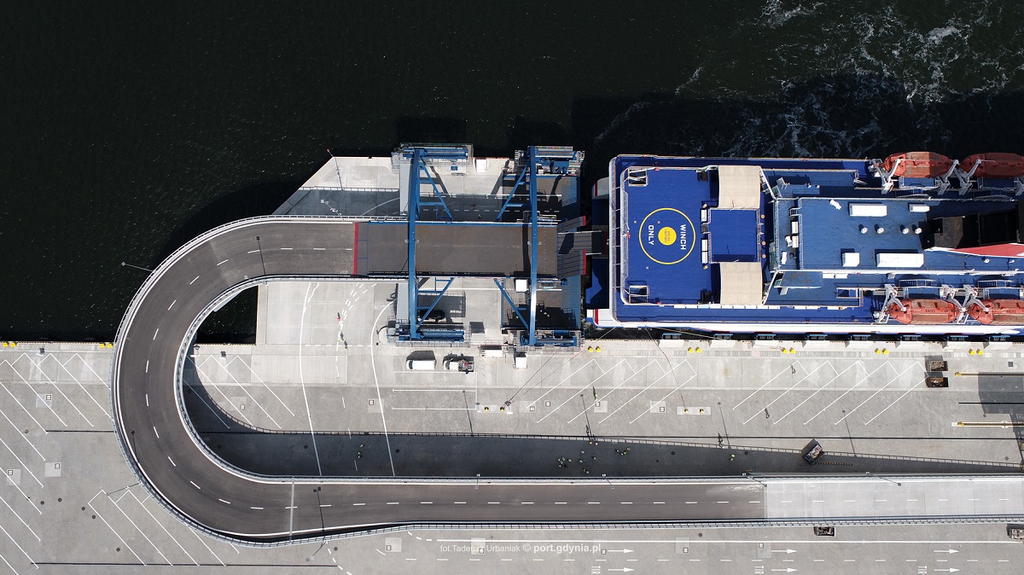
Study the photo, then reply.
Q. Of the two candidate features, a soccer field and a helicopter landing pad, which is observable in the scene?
helicopter landing pad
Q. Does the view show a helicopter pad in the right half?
Yes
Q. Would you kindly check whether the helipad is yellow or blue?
yellow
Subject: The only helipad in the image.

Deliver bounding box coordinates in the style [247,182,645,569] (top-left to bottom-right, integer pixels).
[639,208,695,264]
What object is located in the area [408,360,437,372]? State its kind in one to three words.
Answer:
vehicle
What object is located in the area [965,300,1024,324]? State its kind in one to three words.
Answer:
boat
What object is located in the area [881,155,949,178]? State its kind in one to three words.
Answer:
boat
